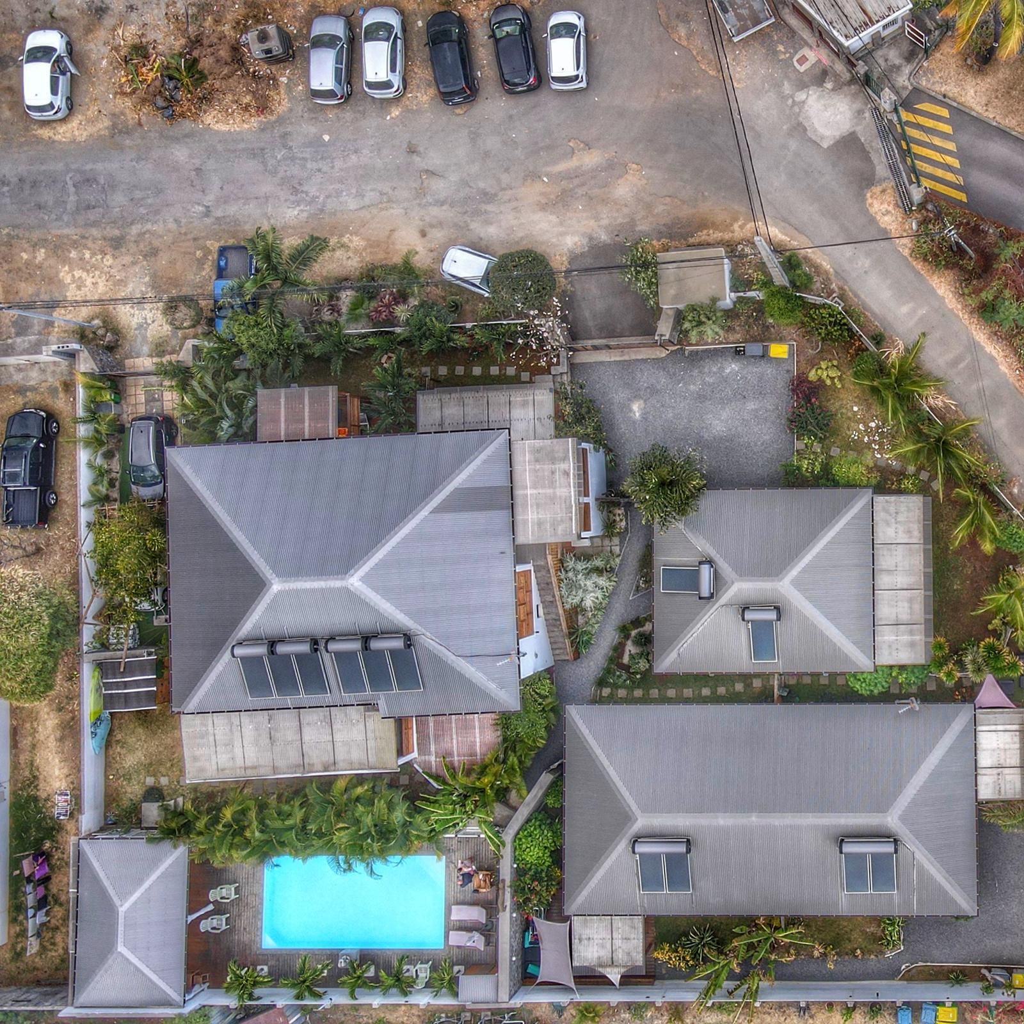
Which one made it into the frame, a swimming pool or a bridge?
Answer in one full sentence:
The image shows a swimming pool.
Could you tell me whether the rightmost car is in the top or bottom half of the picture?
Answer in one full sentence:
The rightmost car sits in the top half of the picture.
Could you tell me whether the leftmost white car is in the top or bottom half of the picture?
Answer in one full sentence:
It is in the top half that the leftmost white car appears.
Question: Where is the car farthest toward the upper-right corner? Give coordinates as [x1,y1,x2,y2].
[543,11,589,92]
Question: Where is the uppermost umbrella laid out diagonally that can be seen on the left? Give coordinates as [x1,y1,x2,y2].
[191,904,213,924]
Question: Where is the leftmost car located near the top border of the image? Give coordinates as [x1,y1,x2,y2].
[21,32,90,122]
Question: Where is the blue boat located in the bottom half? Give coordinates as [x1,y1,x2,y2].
[91,711,108,756]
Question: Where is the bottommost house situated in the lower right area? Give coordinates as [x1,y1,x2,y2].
[561,701,1024,975]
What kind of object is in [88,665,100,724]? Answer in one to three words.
boat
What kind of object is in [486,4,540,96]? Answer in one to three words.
car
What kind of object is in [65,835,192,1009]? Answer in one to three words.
building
